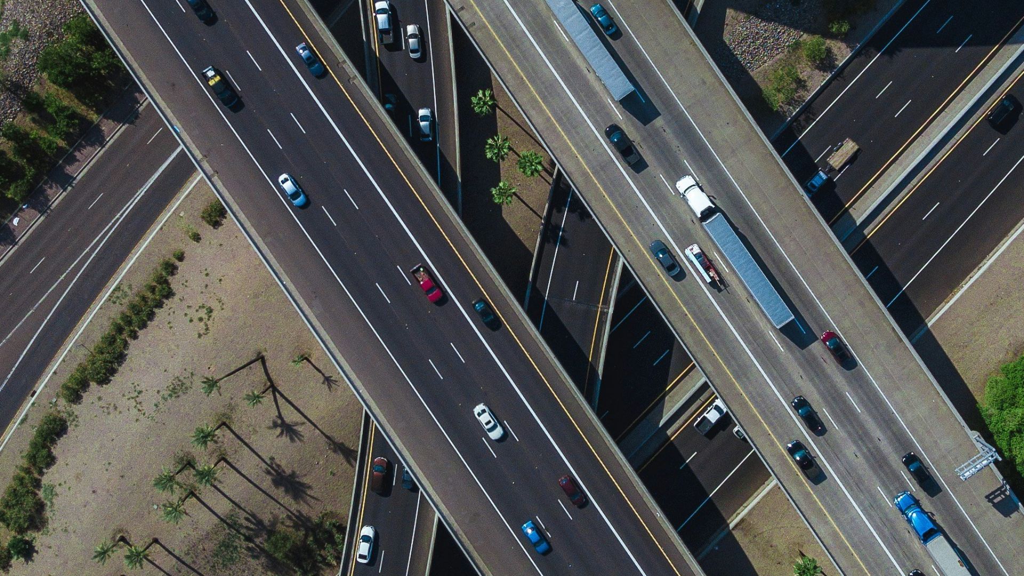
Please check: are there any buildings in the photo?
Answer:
No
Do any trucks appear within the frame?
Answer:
Yes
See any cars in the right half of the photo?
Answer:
Yes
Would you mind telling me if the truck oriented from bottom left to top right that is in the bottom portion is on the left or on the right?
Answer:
right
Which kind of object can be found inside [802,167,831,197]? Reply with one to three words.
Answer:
truck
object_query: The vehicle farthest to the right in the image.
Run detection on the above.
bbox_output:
[980,95,1017,131]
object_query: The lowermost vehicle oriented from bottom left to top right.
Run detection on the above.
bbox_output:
[691,399,726,436]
